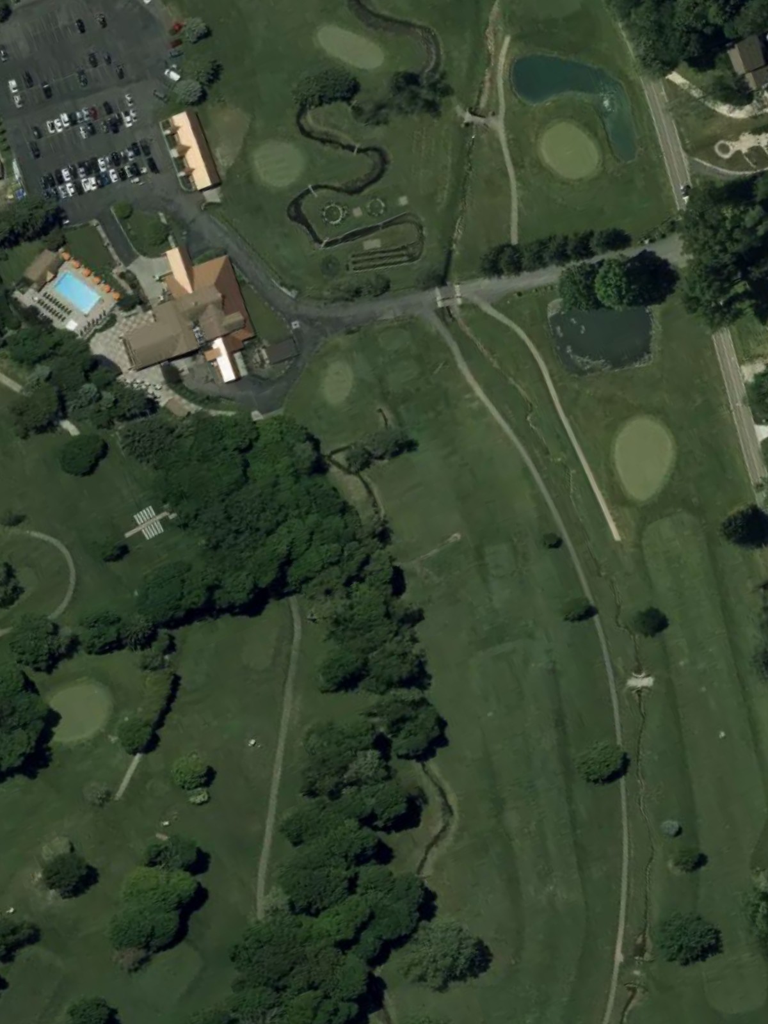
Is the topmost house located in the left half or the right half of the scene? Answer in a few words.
right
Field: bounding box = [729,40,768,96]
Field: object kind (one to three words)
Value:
house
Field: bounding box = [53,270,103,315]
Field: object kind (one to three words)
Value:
swimming pool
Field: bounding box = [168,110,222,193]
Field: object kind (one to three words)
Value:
building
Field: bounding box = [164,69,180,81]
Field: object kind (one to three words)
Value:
vehicle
